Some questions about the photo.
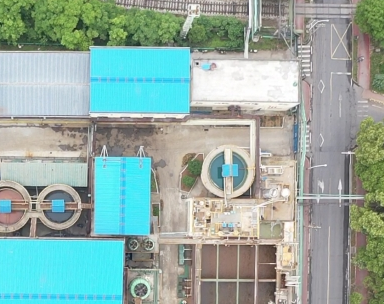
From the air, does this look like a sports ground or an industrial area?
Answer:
industrial area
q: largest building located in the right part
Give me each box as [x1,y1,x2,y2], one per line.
[190,59,299,110]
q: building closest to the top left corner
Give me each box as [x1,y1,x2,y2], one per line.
[0,50,90,118]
